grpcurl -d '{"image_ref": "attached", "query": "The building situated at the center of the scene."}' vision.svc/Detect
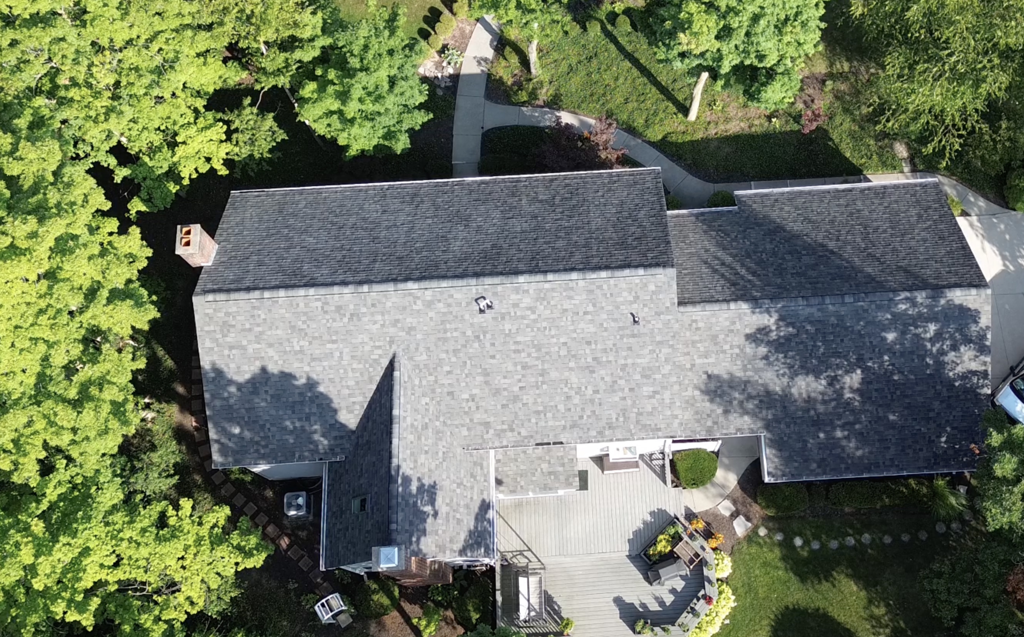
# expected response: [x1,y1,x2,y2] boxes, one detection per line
[176,163,992,585]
